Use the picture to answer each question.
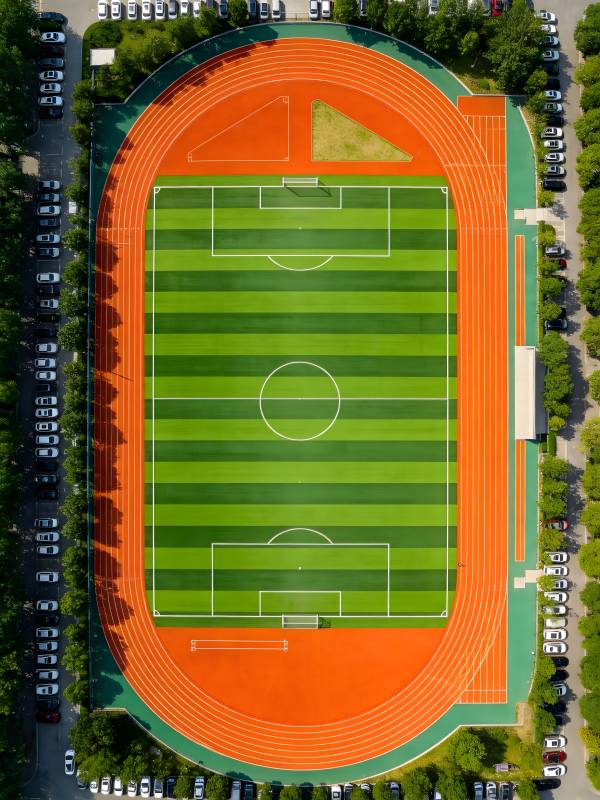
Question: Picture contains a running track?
Yes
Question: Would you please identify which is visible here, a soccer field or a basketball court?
soccer field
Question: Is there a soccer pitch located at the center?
Yes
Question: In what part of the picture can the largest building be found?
top left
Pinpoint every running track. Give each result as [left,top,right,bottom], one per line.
[90,23,538,785]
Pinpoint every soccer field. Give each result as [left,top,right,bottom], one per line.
[144,176,458,629]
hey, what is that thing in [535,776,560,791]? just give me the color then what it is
black car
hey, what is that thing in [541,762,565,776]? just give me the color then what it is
white vehicle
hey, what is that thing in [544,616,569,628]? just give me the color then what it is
white vehicle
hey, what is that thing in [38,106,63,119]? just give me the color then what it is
black vehicle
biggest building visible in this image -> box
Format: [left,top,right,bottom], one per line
[90,48,118,71]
